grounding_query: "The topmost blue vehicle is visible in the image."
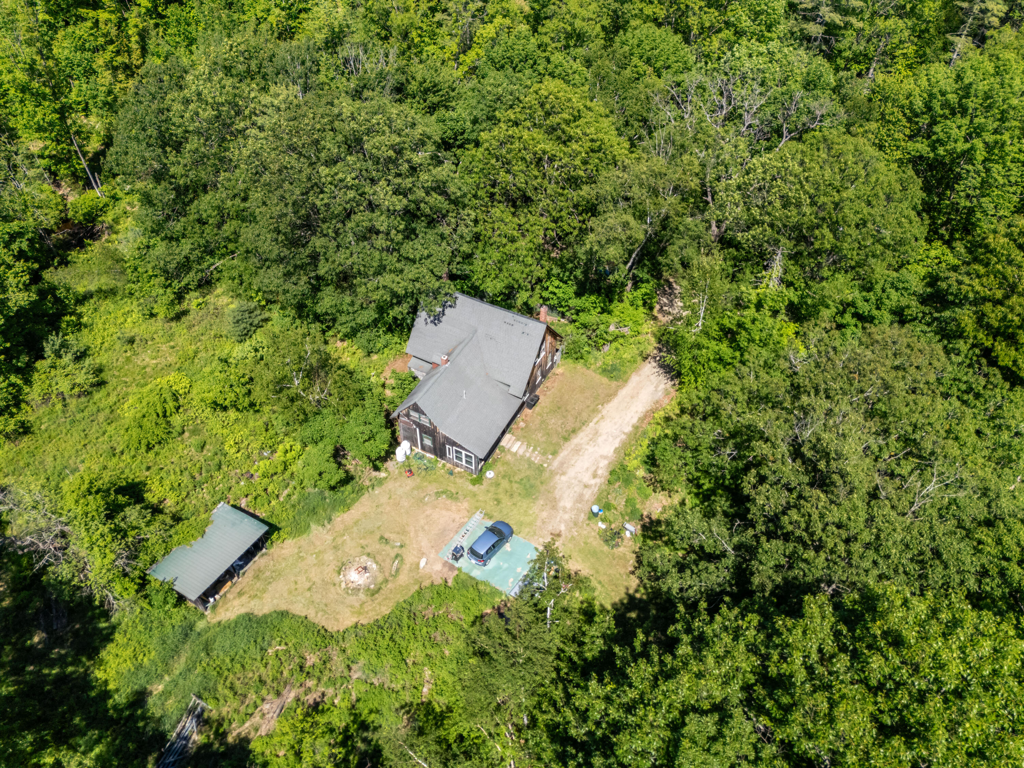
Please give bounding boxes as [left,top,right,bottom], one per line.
[464,521,514,568]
